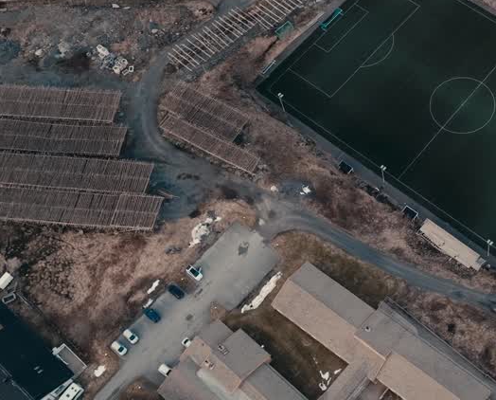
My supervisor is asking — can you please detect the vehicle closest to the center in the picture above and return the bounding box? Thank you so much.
[186,265,204,282]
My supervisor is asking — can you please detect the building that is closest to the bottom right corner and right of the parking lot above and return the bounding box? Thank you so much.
[378,324,496,400]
